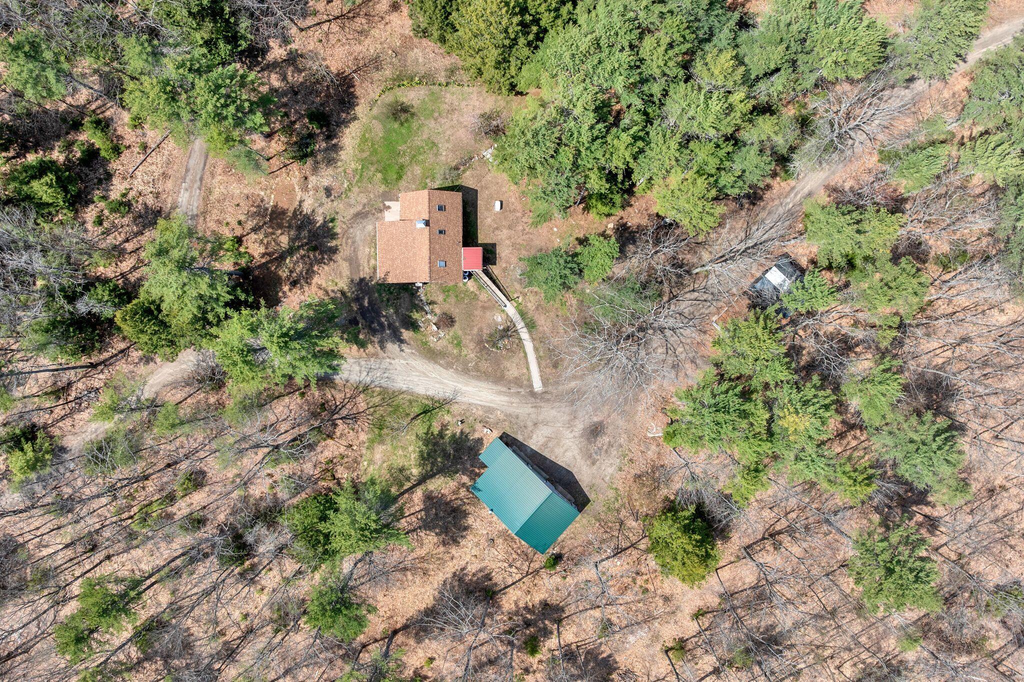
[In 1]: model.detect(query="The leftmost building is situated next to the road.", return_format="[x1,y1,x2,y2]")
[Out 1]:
[377,188,483,284]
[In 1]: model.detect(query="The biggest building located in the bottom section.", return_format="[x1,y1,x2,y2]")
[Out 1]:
[470,438,579,555]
